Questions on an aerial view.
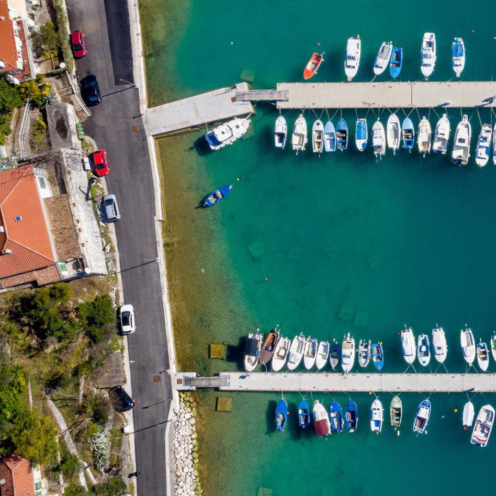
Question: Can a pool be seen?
No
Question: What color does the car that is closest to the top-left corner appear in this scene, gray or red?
red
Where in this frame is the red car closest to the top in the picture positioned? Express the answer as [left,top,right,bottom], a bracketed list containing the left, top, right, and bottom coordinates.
[66,28,86,57]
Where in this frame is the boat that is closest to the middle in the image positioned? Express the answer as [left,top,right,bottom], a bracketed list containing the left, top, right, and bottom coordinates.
[172,186,231,212]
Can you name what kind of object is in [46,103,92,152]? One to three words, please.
building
